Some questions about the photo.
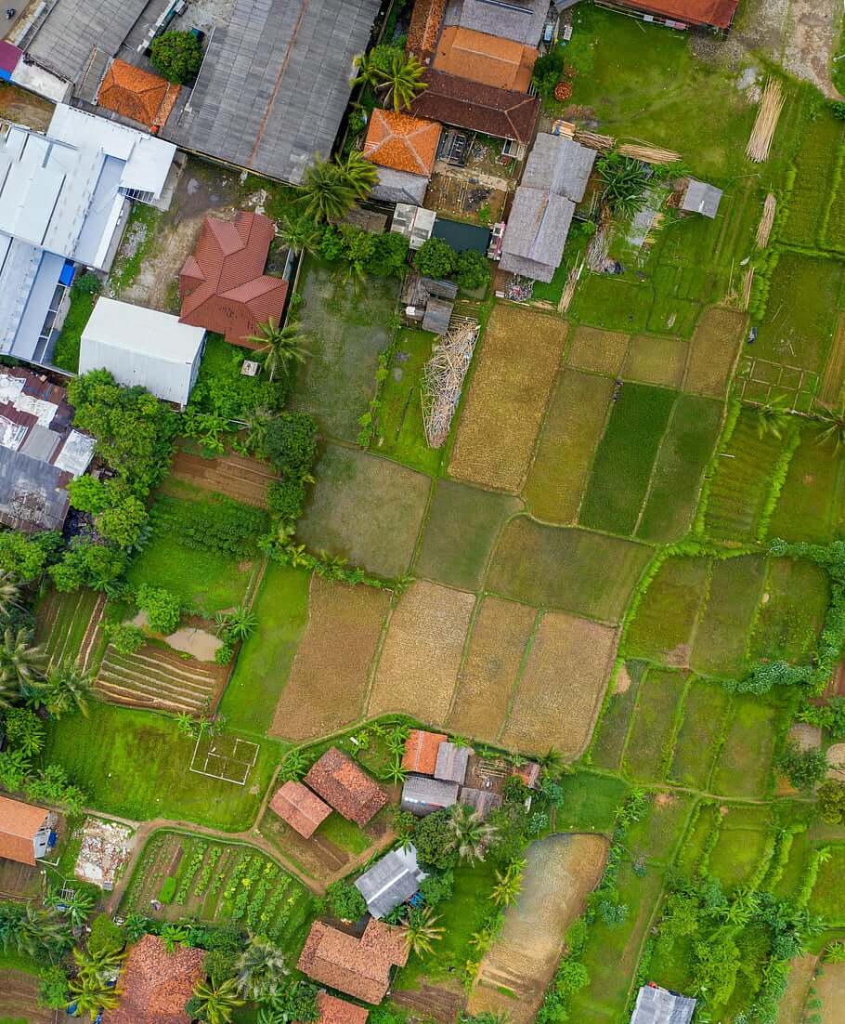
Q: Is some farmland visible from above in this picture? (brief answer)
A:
Yes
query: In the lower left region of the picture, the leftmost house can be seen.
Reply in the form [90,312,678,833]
[0,791,55,864]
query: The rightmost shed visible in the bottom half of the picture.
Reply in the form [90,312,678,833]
[627,979,695,1024]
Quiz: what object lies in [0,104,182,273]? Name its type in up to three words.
building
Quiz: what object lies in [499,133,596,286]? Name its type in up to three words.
barn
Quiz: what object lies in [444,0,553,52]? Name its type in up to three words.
house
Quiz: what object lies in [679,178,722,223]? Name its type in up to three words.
shed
